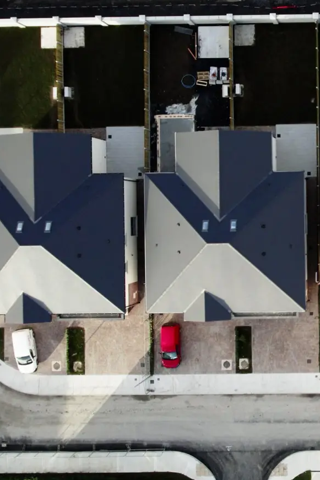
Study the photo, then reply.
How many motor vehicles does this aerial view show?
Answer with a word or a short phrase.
two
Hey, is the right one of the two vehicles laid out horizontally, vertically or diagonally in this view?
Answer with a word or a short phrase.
vertically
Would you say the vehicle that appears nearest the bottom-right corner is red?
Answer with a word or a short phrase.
Yes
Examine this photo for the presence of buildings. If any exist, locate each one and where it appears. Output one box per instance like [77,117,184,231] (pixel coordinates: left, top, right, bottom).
[143,127,309,322]
[0,129,138,325]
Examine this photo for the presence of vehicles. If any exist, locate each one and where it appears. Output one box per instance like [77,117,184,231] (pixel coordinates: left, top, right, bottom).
[158,322,182,367]
[10,326,40,373]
